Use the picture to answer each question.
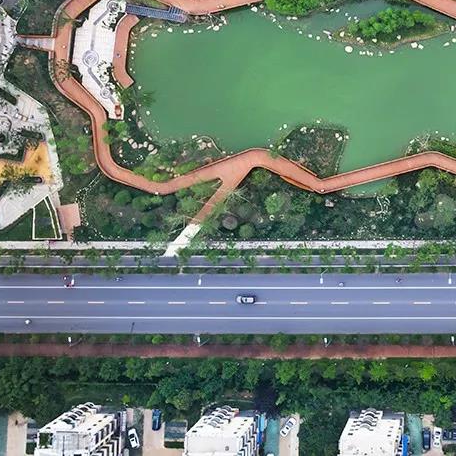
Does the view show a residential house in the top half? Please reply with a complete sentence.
No, there is no residential house in the top half.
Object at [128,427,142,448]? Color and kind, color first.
white vehicle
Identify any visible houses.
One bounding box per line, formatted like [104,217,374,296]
[339,409,406,456]
[184,407,261,456]
[37,403,122,456]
